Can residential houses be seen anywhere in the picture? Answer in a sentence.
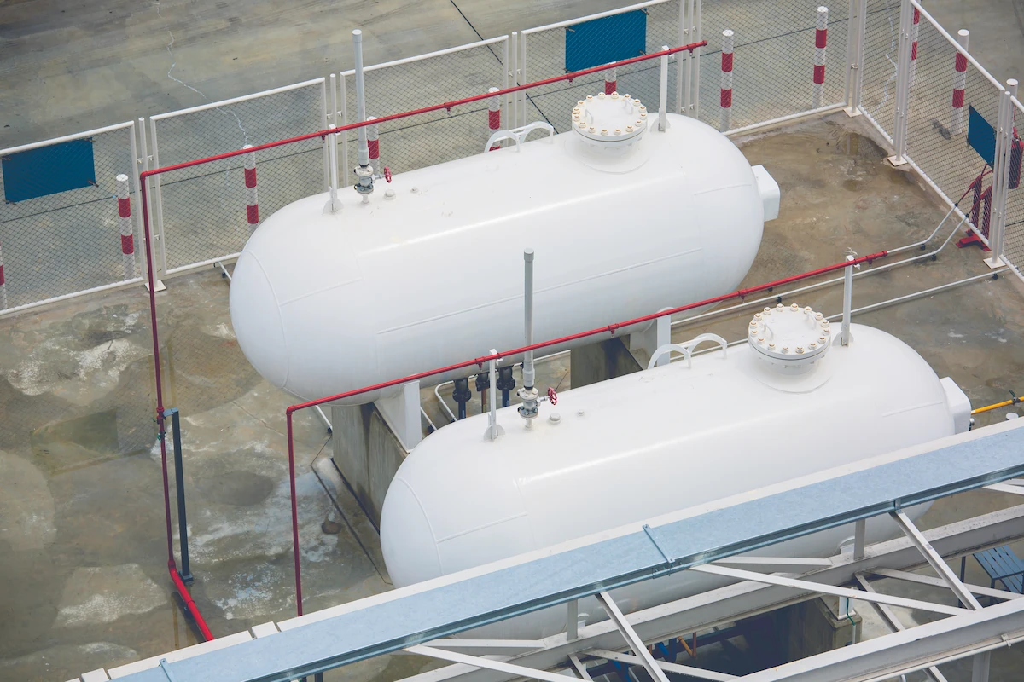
No, I can see no residential house in this picture.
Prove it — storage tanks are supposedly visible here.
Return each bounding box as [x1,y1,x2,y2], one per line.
[230,30,781,451]
[379,248,971,682]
